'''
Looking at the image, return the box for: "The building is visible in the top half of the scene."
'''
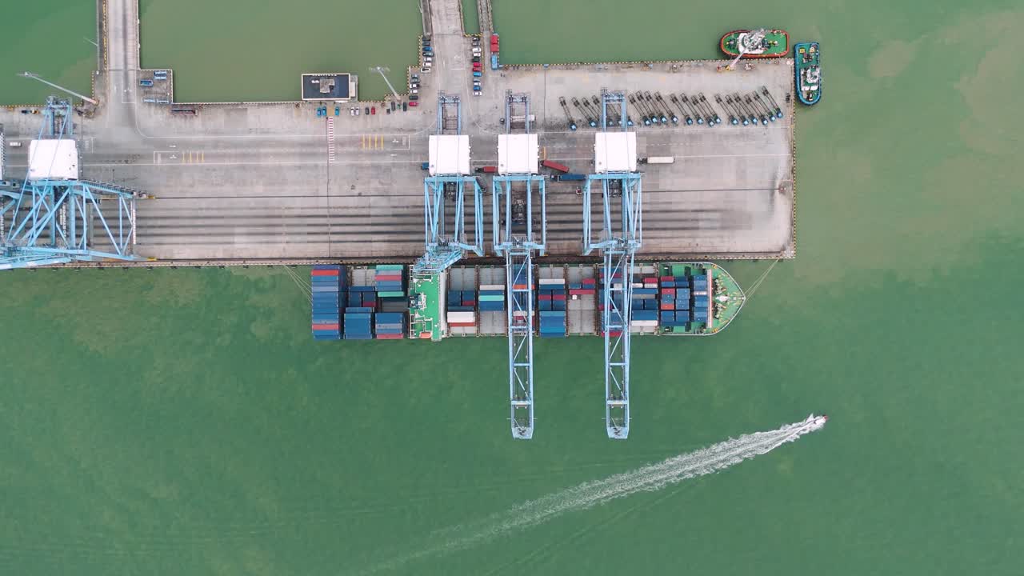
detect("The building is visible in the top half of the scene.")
[301,73,362,105]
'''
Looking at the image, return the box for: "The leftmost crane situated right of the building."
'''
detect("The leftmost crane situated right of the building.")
[408,84,489,281]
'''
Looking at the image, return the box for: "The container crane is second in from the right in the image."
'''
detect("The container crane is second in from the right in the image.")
[490,83,550,438]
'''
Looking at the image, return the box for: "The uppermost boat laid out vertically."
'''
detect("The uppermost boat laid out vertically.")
[792,43,820,108]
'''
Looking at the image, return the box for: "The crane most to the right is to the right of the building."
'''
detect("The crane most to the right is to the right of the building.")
[573,82,645,437]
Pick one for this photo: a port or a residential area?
port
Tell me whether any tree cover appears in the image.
No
